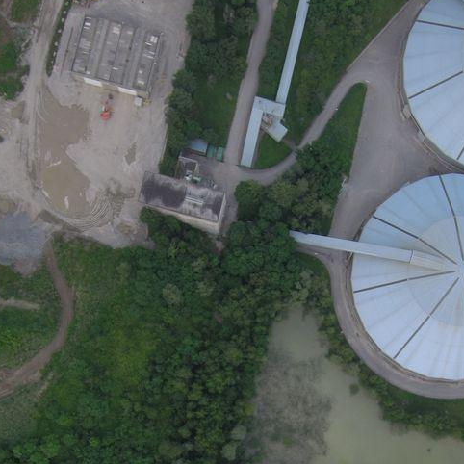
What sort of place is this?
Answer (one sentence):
This image shows an industrial area.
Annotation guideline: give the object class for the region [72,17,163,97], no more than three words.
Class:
building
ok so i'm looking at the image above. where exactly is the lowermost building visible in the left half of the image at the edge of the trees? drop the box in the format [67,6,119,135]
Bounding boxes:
[138,172,225,228]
